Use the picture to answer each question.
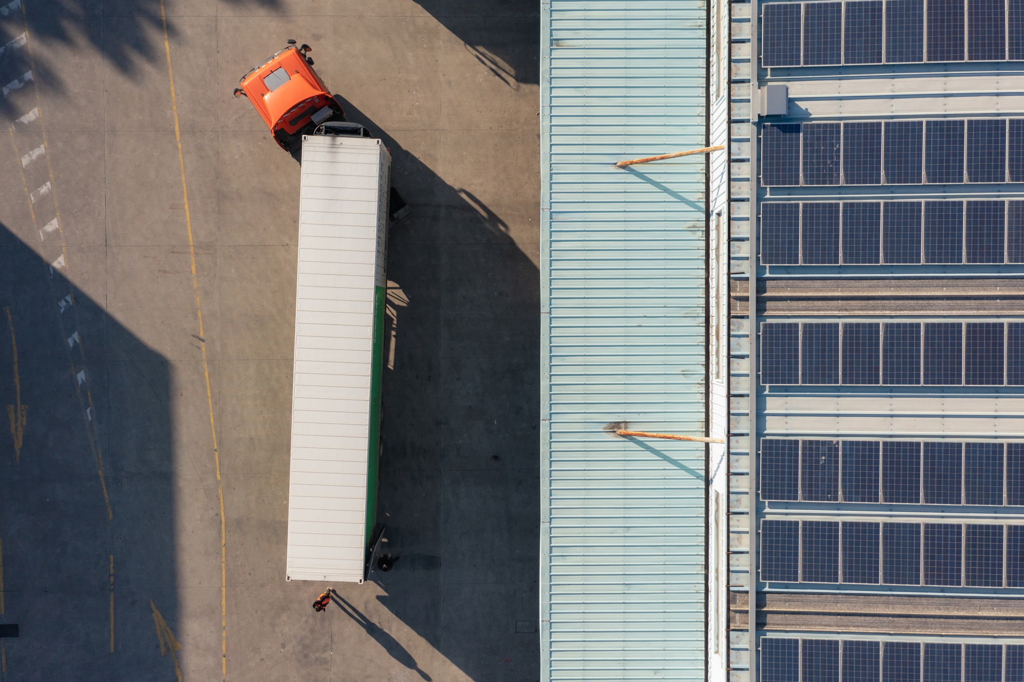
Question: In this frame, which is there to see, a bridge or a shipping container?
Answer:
shipping container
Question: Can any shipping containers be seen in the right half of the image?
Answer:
No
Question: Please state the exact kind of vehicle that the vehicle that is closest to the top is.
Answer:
truck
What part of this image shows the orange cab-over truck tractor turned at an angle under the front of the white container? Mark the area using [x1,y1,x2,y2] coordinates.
[231,33,353,164]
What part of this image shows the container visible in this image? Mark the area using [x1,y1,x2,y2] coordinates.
[285,136,392,584]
